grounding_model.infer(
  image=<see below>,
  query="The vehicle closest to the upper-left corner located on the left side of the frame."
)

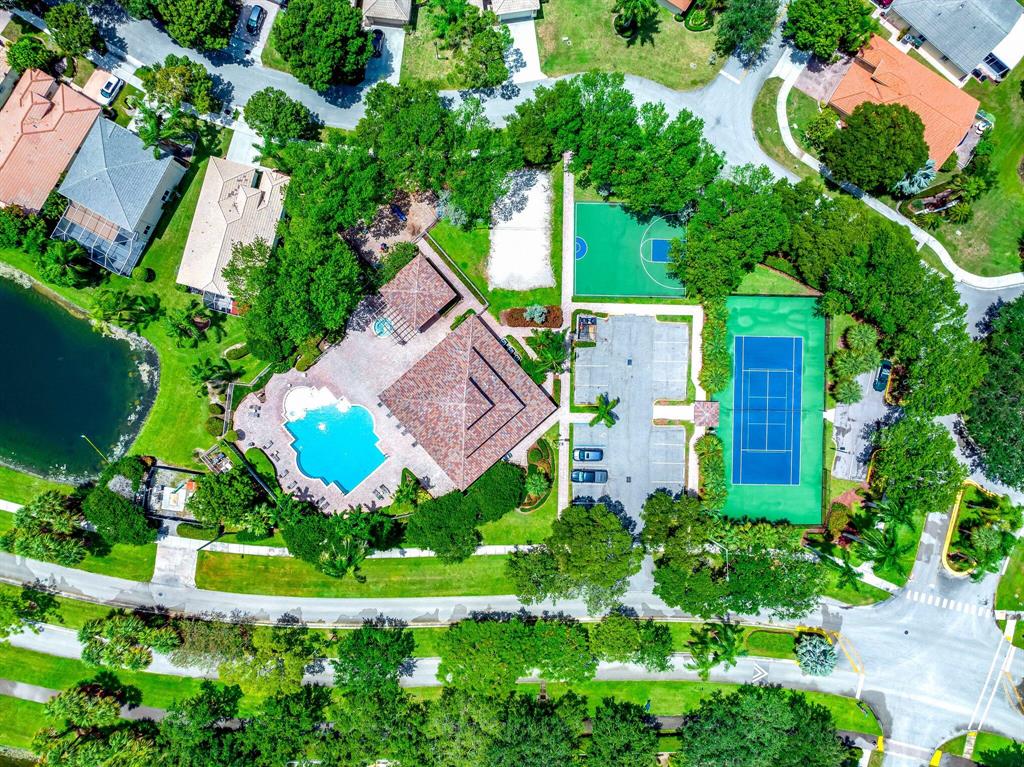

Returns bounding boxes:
[98,76,123,105]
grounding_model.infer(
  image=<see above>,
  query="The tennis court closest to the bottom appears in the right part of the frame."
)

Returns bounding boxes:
[720,296,826,524]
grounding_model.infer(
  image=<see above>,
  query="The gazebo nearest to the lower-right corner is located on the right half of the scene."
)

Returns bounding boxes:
[691,402,719,426]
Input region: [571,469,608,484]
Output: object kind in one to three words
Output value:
vehicle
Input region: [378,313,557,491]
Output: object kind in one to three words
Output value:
building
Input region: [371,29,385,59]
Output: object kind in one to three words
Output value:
car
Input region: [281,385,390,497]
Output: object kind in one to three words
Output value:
swimming pool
